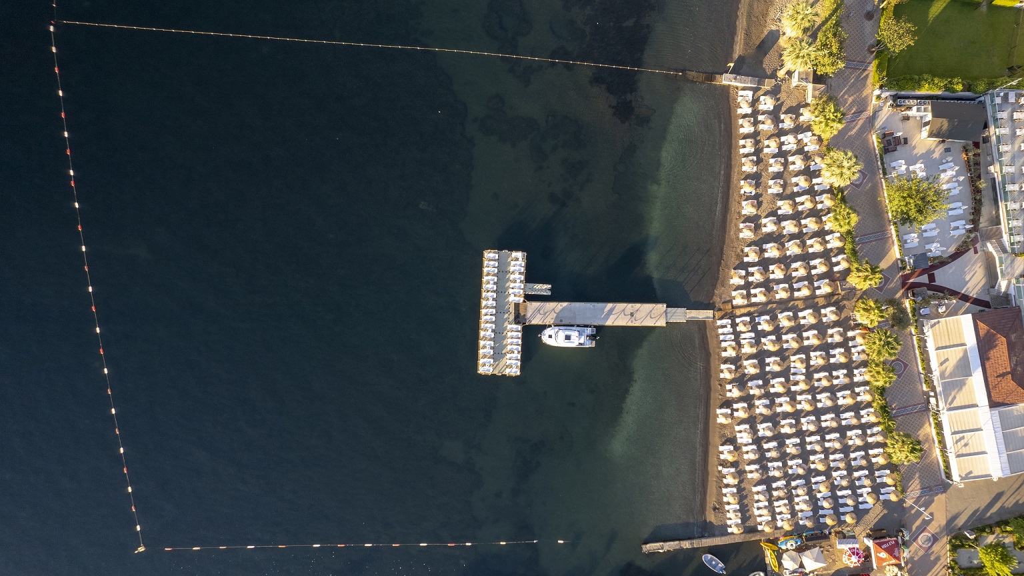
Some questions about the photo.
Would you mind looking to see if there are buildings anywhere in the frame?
Yes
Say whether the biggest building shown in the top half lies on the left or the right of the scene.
right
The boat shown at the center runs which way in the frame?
from left to right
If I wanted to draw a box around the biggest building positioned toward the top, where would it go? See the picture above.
[895,101,987,145]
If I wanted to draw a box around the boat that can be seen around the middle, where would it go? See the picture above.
[538,324,601,347]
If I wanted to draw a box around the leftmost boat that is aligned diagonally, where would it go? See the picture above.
[702,555,729,576]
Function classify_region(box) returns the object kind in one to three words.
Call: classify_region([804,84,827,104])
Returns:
building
